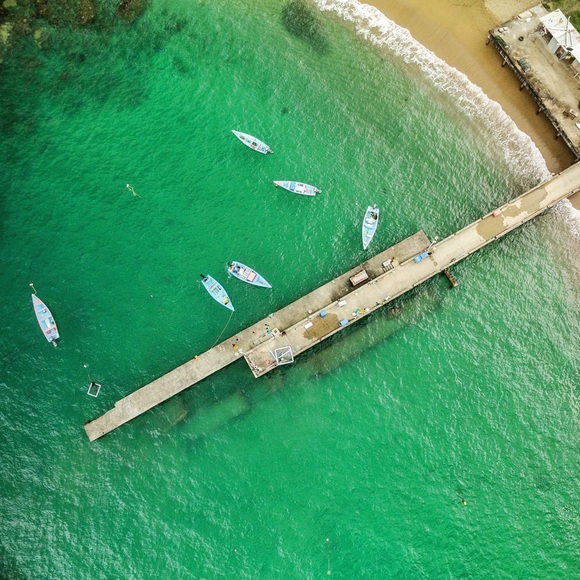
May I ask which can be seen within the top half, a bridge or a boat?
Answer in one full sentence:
It is a boat that can be seen within the top half.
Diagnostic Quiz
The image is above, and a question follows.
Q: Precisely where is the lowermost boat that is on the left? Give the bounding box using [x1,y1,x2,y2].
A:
[31,294,59,344]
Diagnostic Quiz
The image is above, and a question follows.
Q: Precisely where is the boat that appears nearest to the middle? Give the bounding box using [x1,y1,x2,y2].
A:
[226,262,271,288]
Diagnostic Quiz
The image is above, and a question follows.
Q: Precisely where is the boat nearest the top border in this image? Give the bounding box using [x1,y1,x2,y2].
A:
[231,130,272,155]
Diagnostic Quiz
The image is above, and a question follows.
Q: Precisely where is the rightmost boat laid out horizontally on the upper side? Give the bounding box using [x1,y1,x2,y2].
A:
[274,180,321,195]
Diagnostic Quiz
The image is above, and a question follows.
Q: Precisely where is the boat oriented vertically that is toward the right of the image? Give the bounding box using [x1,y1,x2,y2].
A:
[362,202,378,250]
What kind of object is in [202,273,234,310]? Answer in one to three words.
boat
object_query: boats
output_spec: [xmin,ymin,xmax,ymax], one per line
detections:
[274,180,321,195]
[31,294,59,344]
[226,262,271,288]
[202,273,234,310]
[231,130,272,155]
[362,202,378,250]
